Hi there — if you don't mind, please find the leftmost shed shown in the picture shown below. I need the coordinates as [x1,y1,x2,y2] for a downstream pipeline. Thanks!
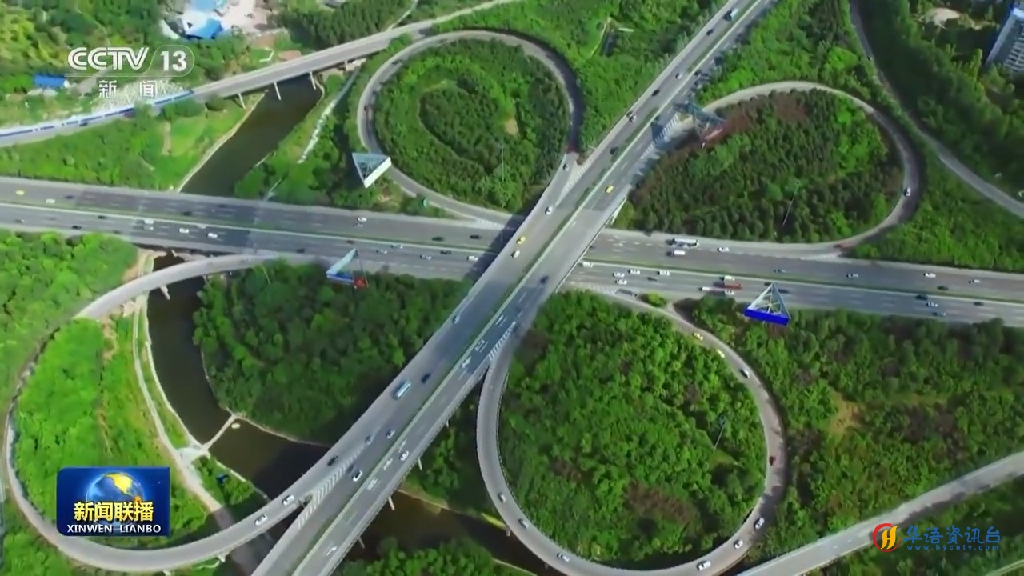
[31,77,70,91]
